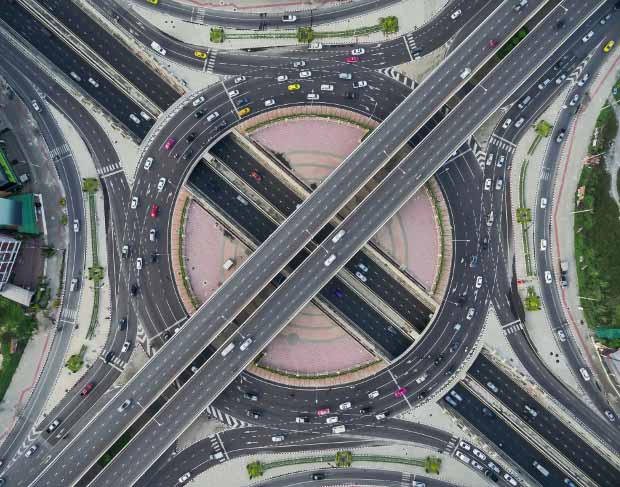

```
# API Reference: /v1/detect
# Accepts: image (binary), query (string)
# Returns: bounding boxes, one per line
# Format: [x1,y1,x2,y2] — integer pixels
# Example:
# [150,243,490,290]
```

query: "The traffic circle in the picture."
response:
[122,56,502,436]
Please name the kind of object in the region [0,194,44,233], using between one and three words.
building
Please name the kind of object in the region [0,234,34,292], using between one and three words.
building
